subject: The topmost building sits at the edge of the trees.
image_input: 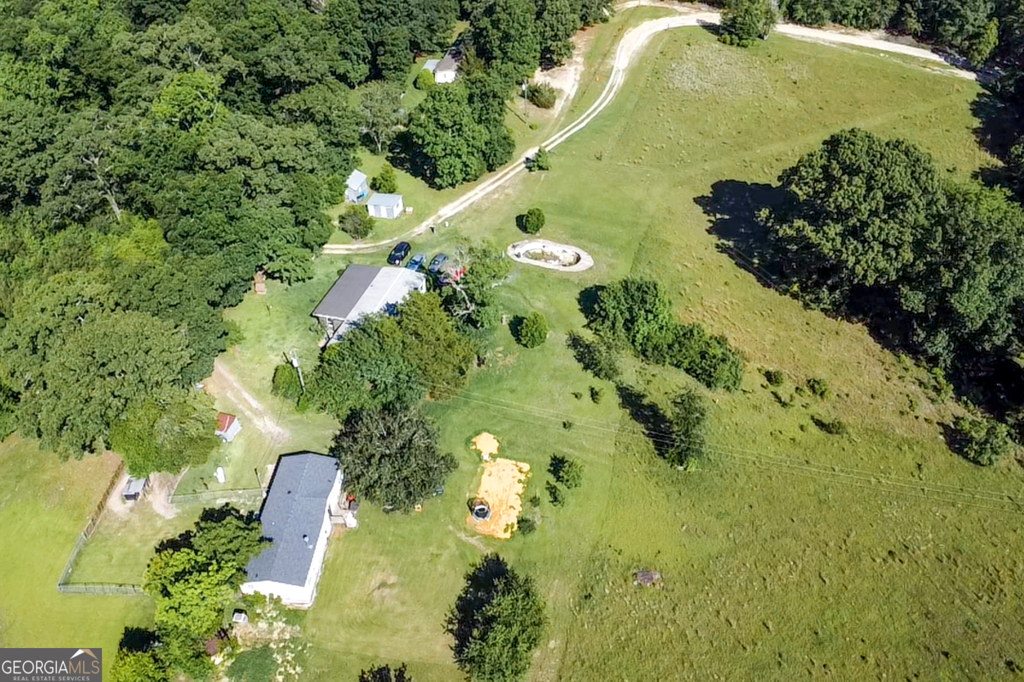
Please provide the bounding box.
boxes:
[426,49,466,87]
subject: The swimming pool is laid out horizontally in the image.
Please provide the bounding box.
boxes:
[509,239,594,272]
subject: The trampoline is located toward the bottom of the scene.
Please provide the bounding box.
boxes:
[471,498,492,525]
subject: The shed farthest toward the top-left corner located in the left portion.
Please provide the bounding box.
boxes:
[346,169,369,202]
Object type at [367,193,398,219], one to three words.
shed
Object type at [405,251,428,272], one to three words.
car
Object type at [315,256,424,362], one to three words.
house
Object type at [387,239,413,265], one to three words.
car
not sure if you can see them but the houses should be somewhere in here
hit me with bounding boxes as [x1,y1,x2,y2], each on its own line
[242,453,342,609]
[315,256,424,362]
[426,49,466,87]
